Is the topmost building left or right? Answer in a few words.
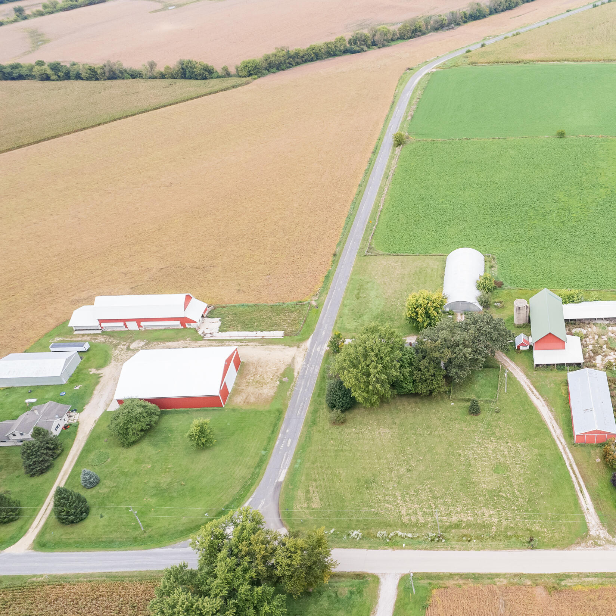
right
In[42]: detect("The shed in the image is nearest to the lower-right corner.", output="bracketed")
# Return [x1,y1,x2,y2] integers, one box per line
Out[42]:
[567,367,616,444]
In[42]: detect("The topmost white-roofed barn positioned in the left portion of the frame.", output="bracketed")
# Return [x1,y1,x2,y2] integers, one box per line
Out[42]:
[67,293,206,332]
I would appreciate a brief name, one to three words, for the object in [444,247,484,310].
building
